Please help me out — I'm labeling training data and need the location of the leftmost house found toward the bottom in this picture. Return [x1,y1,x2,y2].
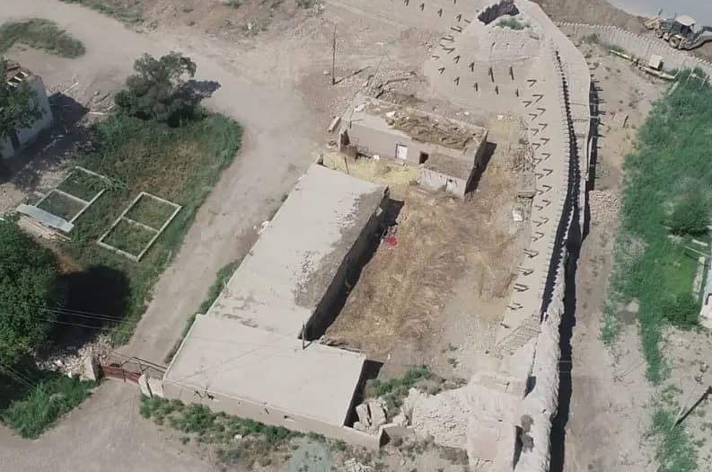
[161,164,400,443]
